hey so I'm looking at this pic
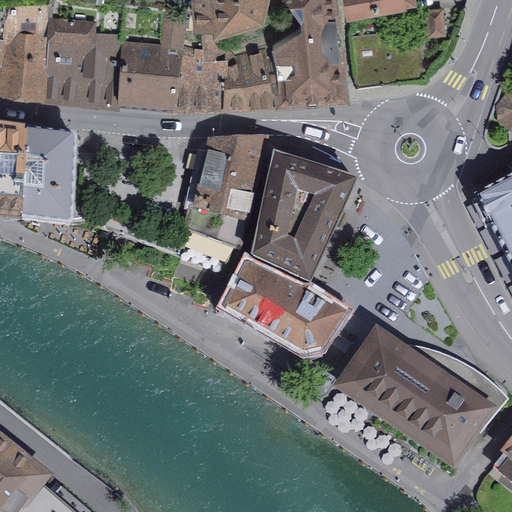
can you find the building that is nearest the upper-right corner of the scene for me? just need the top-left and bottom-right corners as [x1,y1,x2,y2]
[427,8,446,39]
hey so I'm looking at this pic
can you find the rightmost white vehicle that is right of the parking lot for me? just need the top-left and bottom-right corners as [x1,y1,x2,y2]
[495,294,509,315]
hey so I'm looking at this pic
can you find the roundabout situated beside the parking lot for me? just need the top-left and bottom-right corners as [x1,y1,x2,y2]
[349,92,464,204]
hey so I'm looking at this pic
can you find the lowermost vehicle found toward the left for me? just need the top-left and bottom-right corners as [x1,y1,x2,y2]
[146,280,170,298]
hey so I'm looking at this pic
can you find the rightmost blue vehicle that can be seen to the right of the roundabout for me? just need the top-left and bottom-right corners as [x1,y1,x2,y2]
[470,79,484,102]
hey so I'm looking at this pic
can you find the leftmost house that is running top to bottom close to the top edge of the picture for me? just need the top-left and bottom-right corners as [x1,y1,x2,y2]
[0,4,49,104]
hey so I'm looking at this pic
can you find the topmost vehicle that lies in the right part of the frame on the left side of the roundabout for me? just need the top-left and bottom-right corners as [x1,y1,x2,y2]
[302,124,330,140]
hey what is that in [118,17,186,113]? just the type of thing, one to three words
house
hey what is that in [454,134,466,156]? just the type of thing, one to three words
vehicle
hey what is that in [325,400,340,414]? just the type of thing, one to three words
umbrella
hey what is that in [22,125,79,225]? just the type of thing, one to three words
building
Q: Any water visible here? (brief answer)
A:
Yes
